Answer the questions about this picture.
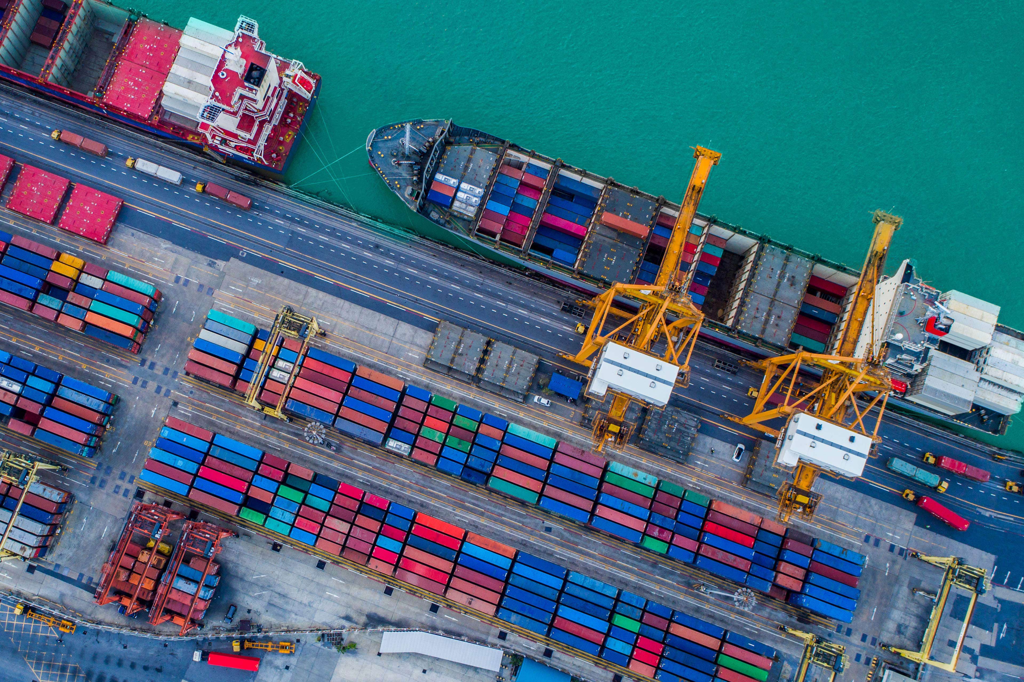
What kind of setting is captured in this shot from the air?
port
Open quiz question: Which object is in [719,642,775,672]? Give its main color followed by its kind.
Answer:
red shipping container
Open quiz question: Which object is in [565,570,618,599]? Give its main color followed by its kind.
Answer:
blue shipping container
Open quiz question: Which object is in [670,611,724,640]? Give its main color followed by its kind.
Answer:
blue shipping container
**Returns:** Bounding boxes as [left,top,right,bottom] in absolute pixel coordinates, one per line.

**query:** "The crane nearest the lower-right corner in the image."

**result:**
[882,551,992,676]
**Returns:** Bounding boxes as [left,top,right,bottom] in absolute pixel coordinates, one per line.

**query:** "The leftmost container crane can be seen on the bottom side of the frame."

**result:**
[0,447,69,564]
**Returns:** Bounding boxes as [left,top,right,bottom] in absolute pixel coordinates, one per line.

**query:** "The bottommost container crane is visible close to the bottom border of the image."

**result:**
[773,622,852,682]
